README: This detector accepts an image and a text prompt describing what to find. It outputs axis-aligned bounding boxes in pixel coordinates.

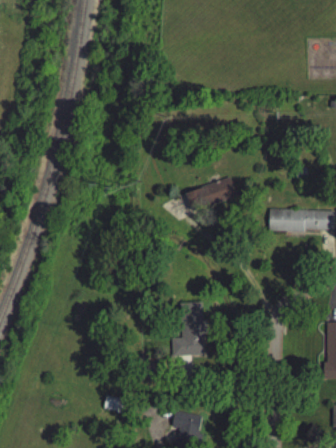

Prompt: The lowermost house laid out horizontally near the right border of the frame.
[269,208,335,232]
